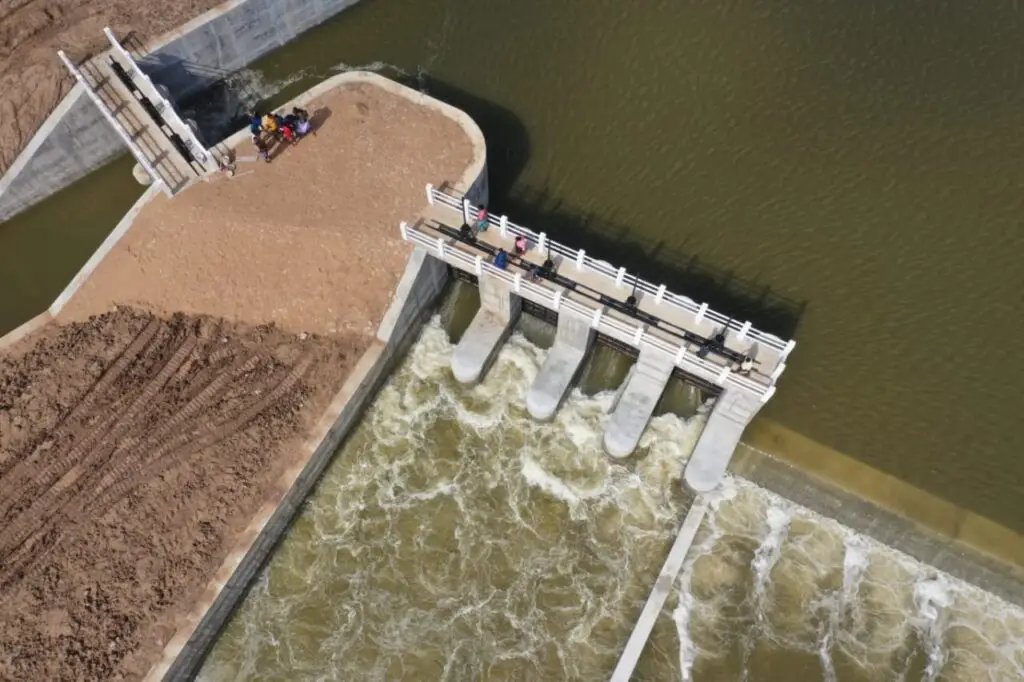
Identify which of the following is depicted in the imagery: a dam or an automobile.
dam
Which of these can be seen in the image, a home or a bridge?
bridge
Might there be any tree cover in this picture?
No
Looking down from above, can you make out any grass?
No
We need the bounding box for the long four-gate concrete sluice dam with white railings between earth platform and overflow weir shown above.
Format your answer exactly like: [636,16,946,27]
[399,180,798,498]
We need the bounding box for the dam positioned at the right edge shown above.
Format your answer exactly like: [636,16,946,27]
[728,445,1024,608]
